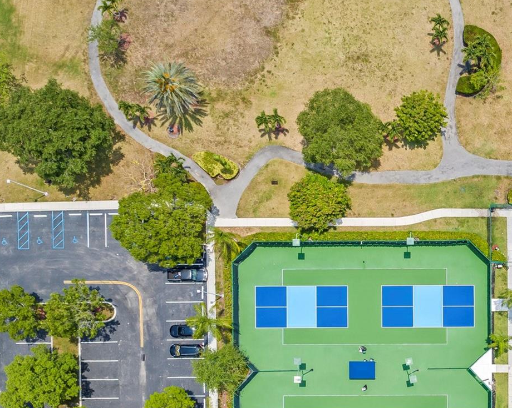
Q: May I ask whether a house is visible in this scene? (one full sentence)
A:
No, no house is visible in the scene.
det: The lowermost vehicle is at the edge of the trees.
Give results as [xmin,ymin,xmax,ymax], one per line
[170,344,204,359]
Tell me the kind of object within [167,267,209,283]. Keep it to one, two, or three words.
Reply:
vehicle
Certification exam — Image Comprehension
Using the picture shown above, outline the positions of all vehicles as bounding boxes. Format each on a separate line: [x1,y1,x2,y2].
[167,267,209,283]
[166,324,198,339]
[170,344,204,359]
